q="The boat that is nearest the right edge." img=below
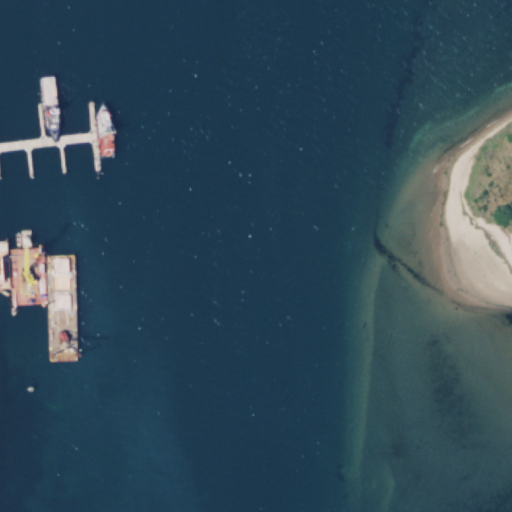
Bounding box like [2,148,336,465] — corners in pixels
[94,104,117,164]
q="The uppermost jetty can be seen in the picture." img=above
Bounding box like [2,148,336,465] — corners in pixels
[0,102,100,178]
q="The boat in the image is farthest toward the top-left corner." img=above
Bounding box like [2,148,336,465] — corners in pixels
[40,76,62,142]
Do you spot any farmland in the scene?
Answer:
No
